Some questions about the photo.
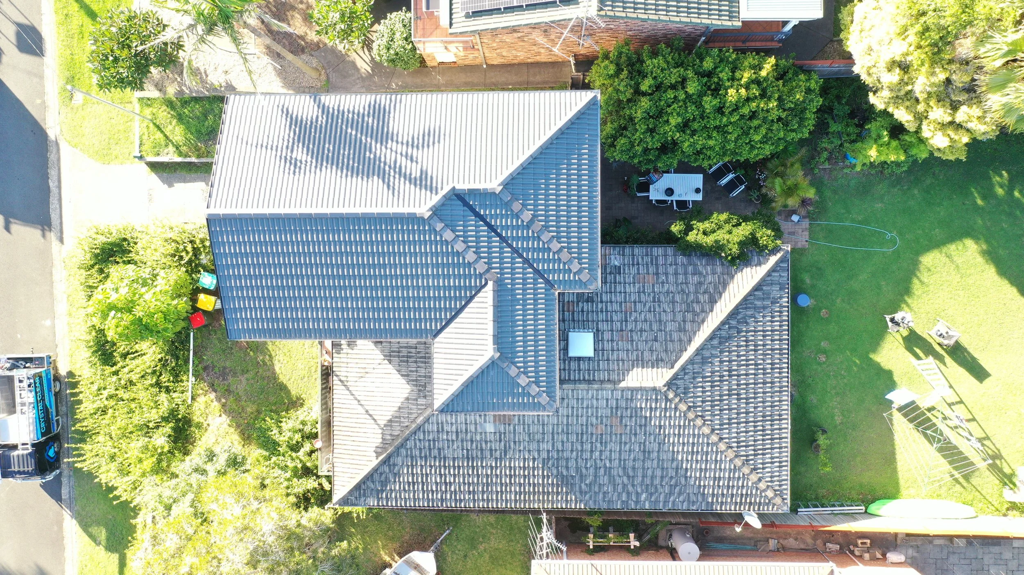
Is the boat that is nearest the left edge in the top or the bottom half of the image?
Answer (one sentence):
The boat that is nearest the left edge sits in the bottom half of the picture.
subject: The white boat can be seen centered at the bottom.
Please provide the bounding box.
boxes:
[378,526,453,575]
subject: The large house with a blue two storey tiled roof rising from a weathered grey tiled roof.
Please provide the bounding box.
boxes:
[200,88,792,515]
